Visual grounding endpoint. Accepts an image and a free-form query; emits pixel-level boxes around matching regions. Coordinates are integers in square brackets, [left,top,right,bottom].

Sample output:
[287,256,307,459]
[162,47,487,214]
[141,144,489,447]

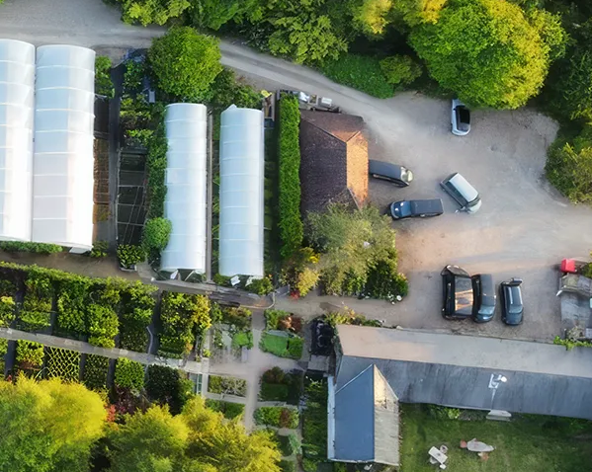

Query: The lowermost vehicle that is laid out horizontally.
[388,199,443,220]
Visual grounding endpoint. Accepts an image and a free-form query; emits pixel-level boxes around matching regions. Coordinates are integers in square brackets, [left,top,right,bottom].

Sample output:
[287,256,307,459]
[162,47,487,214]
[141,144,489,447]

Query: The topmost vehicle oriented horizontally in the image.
[368,161,411,187]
